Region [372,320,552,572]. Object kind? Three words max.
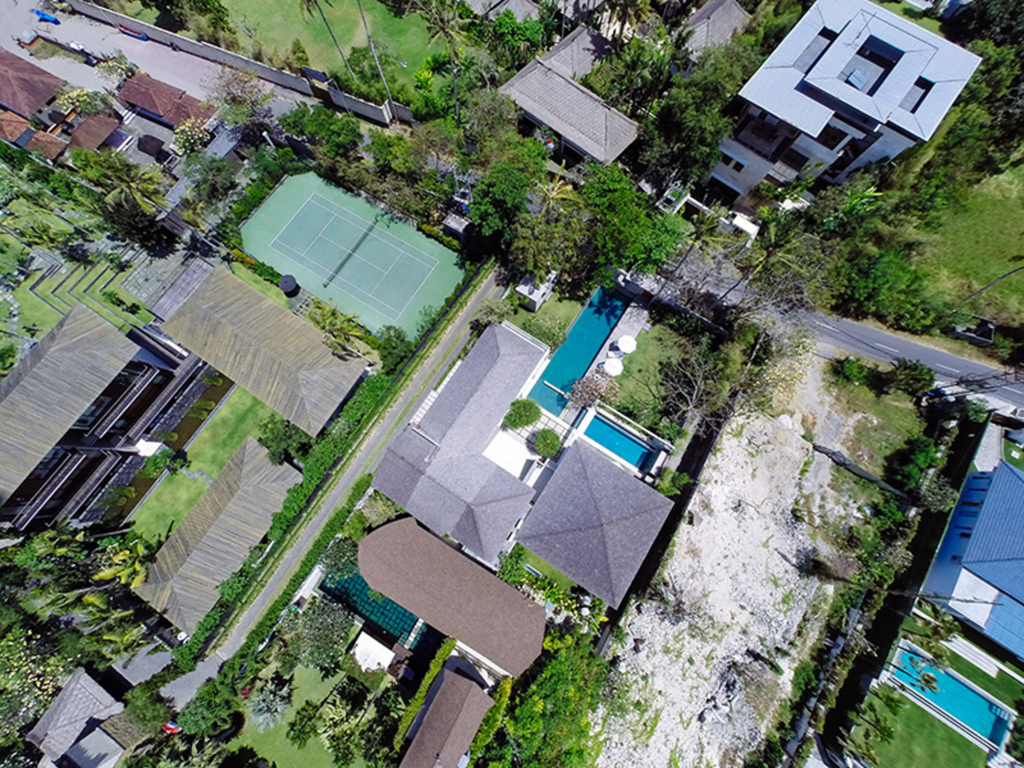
house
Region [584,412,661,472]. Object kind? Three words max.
swimming pool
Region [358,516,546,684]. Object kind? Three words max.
house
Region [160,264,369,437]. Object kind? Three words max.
building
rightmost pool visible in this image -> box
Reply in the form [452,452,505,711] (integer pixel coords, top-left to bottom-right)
[886,636,1014,753]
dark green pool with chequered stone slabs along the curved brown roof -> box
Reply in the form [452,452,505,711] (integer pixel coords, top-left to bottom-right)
[320,570,445,657]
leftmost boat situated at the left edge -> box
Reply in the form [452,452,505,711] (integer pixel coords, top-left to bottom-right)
[28,5,64,33]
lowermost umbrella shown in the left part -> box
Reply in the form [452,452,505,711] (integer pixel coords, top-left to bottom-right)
[280,276,298,292]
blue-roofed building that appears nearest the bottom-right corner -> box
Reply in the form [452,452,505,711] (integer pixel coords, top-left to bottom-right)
[920,459,1024,655]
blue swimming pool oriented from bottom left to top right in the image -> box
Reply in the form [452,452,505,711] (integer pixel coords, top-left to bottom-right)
[526,285,634,418]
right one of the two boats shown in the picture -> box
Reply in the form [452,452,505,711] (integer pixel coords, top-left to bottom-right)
[115,23,149,42]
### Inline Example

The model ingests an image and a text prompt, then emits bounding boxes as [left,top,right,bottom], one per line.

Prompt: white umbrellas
[617,336,636,354]
[603,358,623,377]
